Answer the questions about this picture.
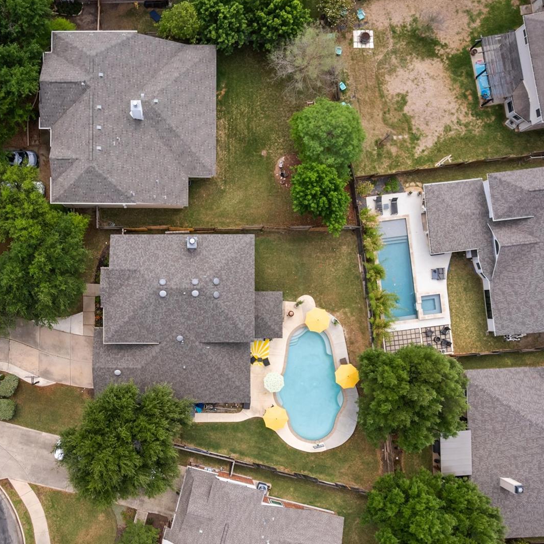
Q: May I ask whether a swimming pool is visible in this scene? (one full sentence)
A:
Yes, the frame does contain a swimming pool.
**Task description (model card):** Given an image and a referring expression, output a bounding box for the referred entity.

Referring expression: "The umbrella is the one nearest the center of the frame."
[305,307,329,333]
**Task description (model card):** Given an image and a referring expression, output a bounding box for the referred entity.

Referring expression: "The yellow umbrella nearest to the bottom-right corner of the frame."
[334,364,358,388]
